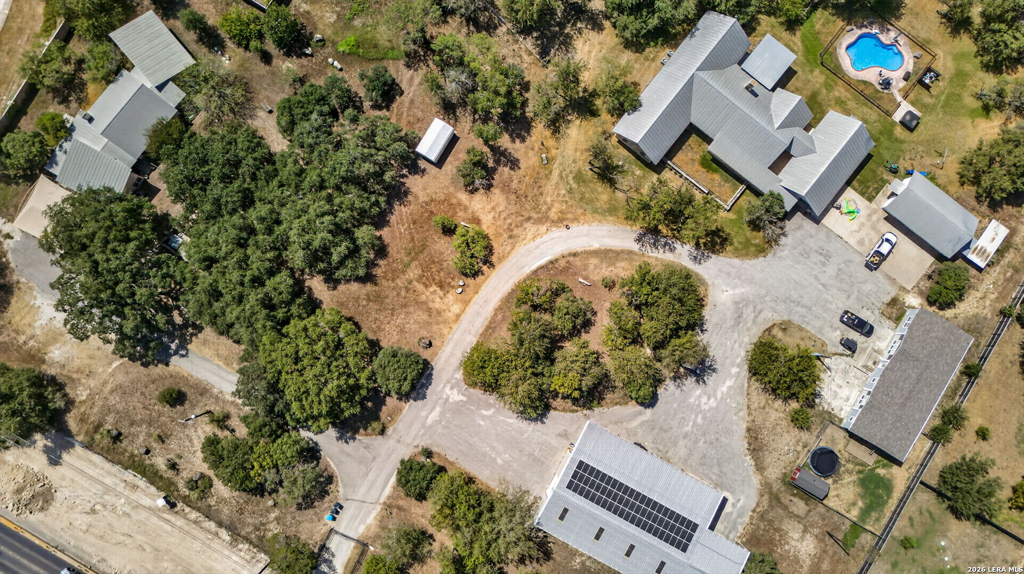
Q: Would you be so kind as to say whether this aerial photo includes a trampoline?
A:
Yes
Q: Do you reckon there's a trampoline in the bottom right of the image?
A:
Yes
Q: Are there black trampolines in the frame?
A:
Yes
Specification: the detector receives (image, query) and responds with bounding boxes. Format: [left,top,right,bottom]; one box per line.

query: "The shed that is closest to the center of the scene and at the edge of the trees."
[416,118,454,164]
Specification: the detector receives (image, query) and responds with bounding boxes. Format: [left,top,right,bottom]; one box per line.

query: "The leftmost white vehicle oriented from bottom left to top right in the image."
[863,230,896,269]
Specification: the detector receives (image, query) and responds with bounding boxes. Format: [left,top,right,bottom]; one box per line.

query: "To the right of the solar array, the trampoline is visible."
[807,445,844,479]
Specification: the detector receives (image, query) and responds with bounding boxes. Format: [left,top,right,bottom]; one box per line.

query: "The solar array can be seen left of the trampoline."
[566,460,699,554]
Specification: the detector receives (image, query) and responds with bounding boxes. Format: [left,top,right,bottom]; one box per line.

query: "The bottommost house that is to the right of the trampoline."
[841,307,974,462]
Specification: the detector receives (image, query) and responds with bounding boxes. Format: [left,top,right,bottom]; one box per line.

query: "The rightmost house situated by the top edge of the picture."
[613,10,876,216]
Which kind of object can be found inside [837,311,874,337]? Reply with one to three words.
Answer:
truck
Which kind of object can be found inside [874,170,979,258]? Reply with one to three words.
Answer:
building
